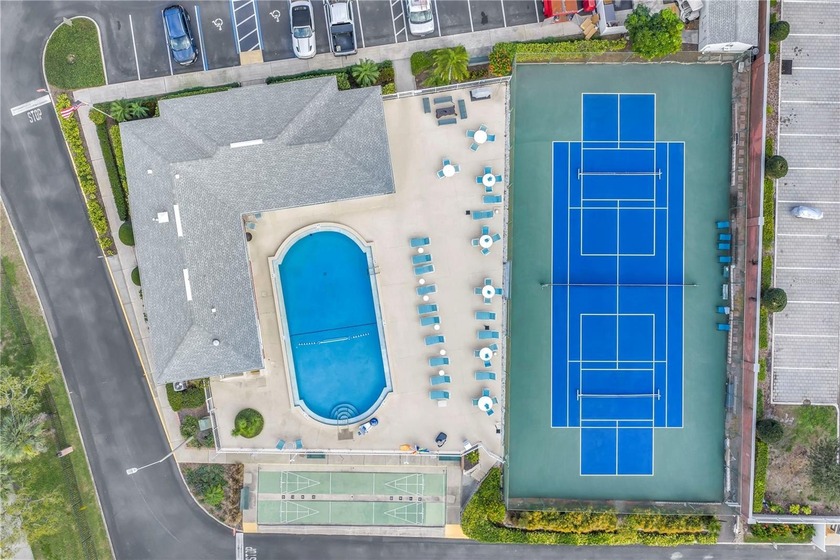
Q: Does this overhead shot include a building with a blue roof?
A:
No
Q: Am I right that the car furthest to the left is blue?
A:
Yes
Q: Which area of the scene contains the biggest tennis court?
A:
right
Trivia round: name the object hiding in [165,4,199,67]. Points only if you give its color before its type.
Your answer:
blue car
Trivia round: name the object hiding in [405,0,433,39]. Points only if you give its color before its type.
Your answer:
white car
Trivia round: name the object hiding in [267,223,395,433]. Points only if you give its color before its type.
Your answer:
blue swimming pool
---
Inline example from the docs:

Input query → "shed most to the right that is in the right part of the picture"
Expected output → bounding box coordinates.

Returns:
[700,0,760,57]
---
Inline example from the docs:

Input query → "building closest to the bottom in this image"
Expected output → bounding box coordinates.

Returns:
[119,75,396,384]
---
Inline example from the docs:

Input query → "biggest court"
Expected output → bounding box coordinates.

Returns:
[503,60,736,501]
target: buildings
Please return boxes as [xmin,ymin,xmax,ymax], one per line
[700,0,760,57]
[119,75,396,384]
